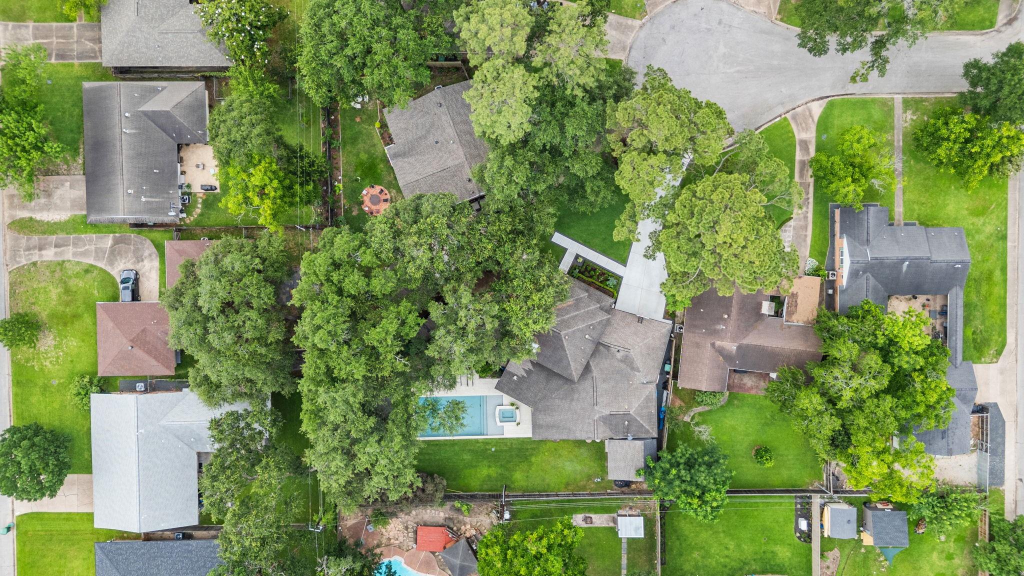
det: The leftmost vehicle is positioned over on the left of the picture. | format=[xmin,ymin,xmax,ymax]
[119,270,141,301]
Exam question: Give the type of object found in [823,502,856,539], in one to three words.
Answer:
shed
